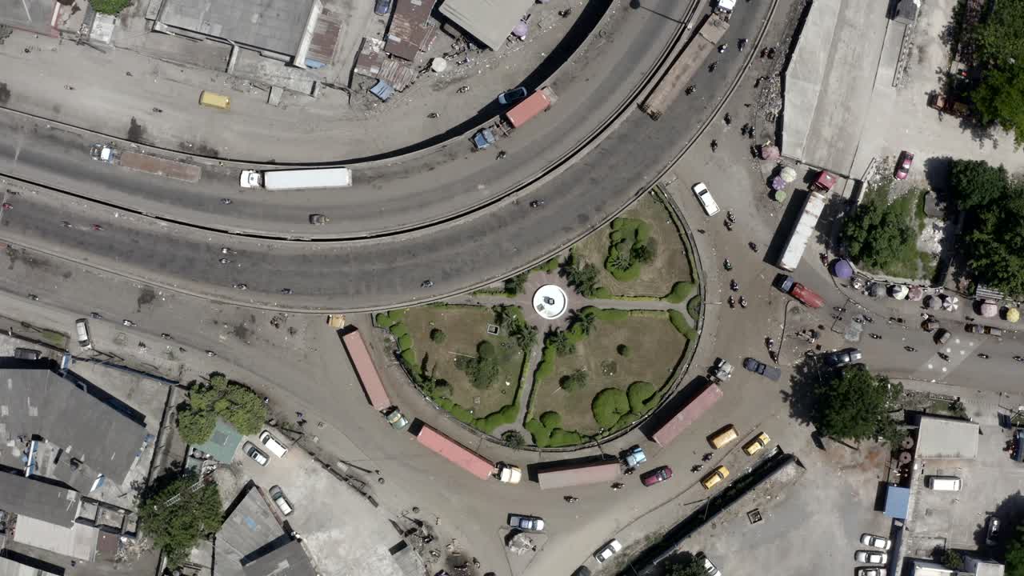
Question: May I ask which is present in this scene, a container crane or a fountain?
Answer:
fountain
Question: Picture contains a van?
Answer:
Yes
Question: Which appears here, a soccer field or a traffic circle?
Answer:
traffic circle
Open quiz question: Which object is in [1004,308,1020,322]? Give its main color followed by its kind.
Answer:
yellow umbrella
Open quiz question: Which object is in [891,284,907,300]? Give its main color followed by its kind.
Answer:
white umbrella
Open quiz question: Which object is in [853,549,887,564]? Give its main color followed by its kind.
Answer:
white car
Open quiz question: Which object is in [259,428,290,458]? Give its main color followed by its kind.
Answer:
white van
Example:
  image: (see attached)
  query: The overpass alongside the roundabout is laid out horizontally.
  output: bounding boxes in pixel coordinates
[0,0,779,313]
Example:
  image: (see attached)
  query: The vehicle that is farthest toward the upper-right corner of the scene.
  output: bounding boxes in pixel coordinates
[921,89,967,119]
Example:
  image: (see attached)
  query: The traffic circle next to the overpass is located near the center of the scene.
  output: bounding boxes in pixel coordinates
[369,179,722,460]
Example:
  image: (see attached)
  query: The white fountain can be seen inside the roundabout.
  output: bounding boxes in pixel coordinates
[533,285,566,318]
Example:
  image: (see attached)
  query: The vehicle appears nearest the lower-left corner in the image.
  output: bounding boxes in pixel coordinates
[12,345,48,360]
